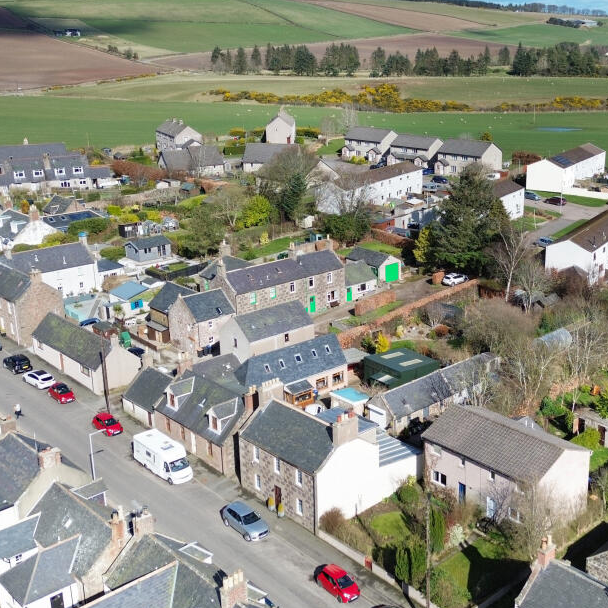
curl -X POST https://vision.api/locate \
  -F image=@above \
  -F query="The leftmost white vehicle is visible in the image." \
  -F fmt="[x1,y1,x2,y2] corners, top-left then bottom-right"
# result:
[26,370,52,389]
